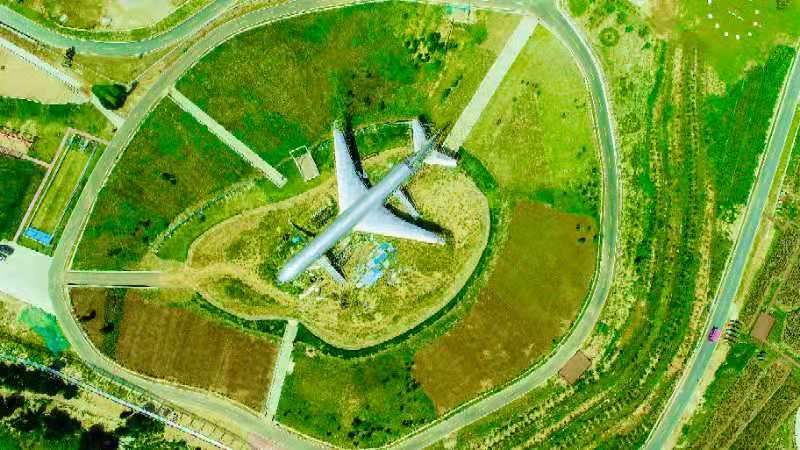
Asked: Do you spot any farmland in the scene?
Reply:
Yes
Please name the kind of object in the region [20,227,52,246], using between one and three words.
shed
